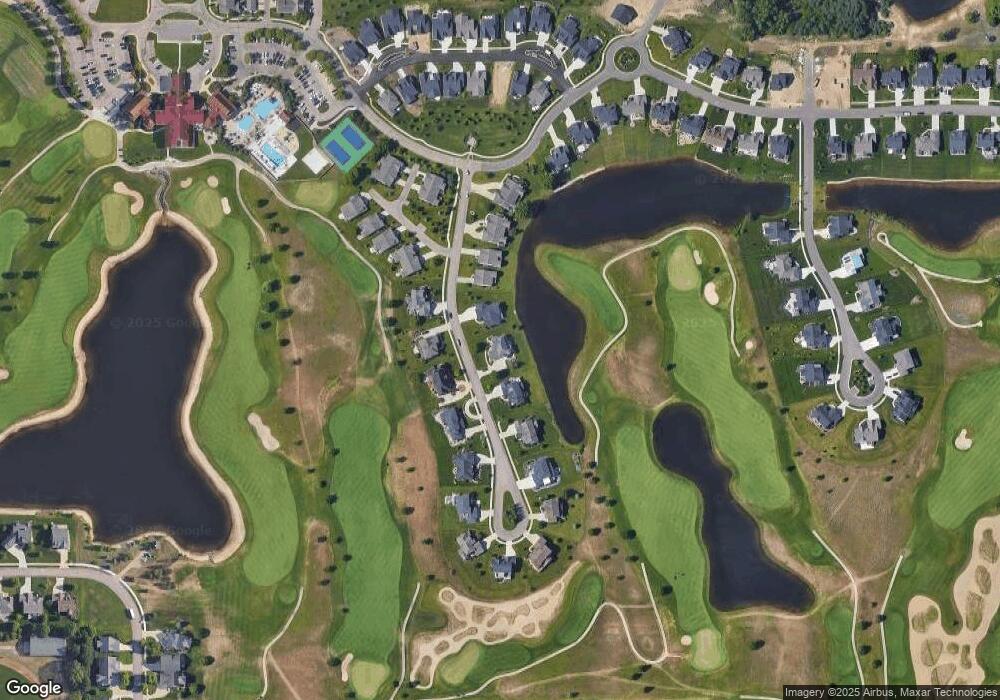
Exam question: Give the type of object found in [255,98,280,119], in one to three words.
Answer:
swimming pool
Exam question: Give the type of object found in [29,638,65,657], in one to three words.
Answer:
shed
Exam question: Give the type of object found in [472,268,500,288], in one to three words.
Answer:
house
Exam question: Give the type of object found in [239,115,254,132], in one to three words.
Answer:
swimming pool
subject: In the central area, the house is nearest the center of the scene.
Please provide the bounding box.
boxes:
[484,333,515,361]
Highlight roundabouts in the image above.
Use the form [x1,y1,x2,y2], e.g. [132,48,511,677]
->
[604,36,650,82]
